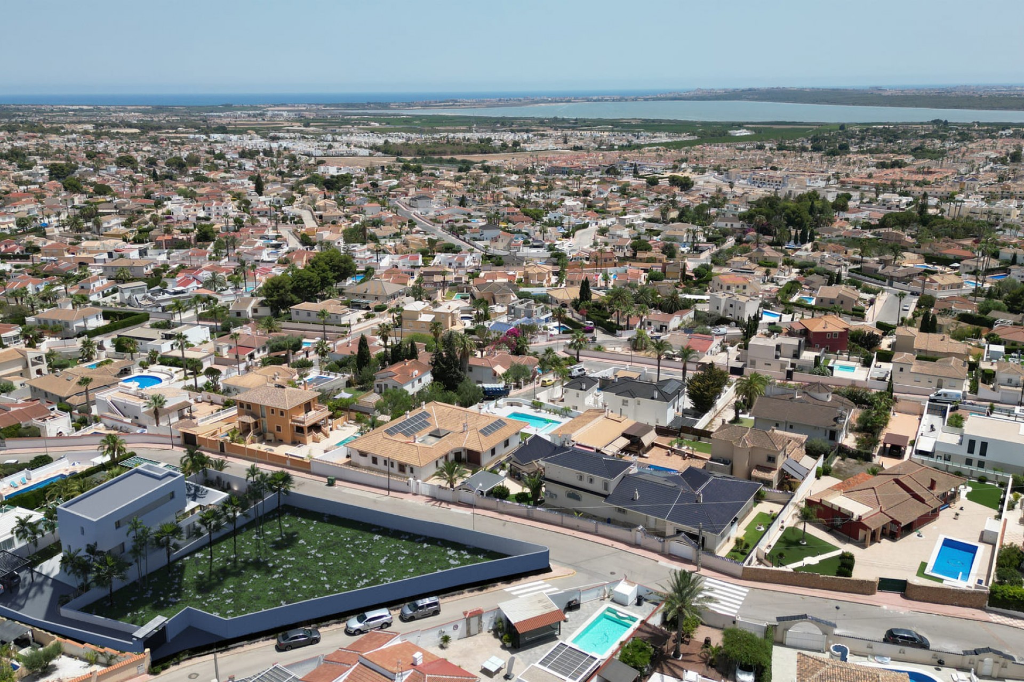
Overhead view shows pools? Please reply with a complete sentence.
Yes, I can see a pool in this picture.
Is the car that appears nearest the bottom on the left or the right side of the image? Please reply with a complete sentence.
It is on the right.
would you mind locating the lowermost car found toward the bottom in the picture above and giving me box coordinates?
[734,656,758,682]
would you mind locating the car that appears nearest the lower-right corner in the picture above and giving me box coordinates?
[884,623,930,648]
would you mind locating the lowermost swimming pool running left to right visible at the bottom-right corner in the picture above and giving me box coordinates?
[865,662,950,682]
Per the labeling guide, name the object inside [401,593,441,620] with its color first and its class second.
gray car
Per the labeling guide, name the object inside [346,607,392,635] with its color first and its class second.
gray car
